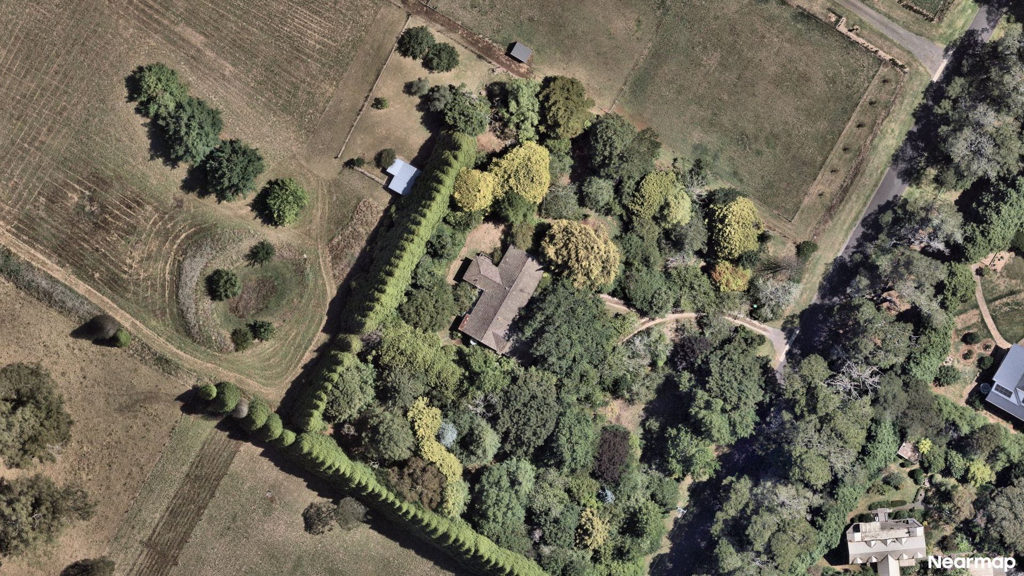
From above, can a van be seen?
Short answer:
No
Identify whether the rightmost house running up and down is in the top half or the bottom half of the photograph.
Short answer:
bottom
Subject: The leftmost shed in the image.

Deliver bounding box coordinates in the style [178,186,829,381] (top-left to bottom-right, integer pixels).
[387,158,422,196]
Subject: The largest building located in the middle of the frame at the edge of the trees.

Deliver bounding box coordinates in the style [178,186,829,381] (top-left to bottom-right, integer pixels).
[461,245,544,357]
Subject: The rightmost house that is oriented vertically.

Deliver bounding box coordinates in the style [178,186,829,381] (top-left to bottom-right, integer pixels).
[986,330,1024,421]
